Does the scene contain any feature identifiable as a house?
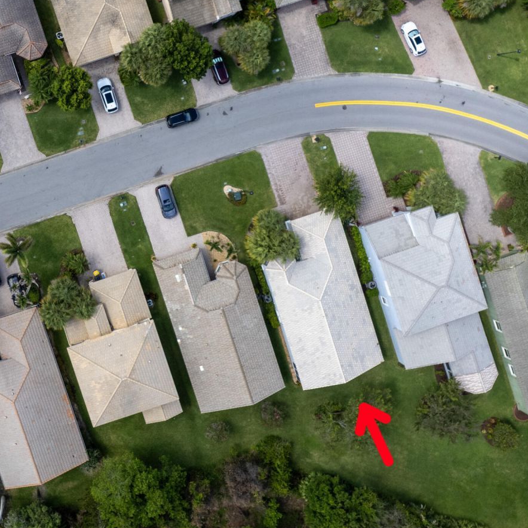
Yes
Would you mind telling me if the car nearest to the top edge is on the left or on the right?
right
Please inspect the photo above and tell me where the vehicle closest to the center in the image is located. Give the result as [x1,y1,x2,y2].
[154,183,177,220]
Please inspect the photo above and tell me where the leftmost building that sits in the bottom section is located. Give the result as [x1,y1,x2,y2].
[0,307,89,490]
